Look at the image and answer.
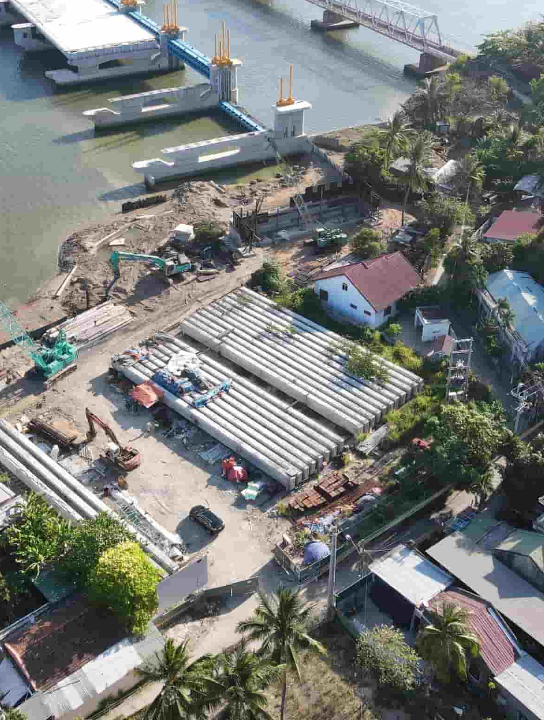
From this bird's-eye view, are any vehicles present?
Yes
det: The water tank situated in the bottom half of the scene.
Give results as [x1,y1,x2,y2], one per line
[304,534,332,563]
